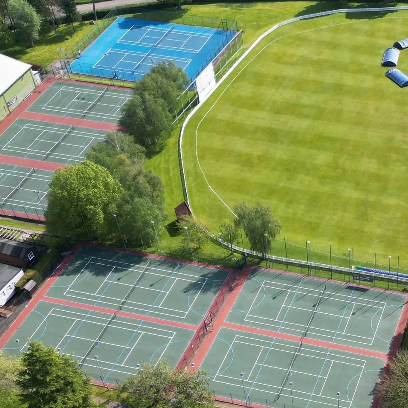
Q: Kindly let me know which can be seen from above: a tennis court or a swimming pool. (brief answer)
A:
tennis court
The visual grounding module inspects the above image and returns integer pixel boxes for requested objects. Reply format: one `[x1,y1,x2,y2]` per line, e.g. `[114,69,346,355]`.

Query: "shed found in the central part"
[169,203,199,229]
